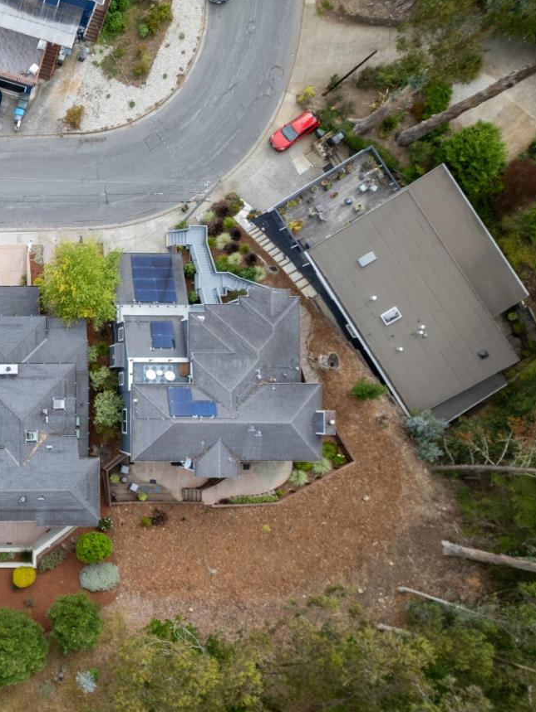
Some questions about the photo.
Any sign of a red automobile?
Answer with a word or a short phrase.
Yes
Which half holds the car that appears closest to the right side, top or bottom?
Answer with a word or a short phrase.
top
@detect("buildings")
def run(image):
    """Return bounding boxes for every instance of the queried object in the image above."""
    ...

[104,252,337,505]
[260,145,531,424]
[0,0,117,95]
[0,285,102,567]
